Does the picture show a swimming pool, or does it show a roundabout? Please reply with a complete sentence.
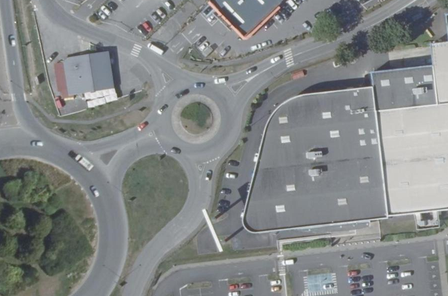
Visible in the photo is a roundabout.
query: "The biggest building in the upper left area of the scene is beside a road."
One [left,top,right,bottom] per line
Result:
[54,50,114,99]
